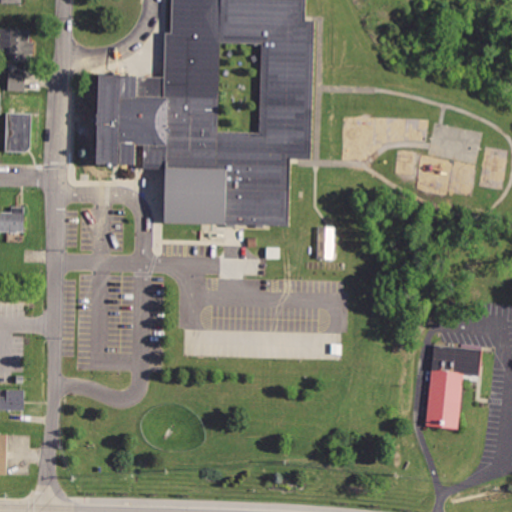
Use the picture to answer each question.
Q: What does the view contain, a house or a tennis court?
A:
house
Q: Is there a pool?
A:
No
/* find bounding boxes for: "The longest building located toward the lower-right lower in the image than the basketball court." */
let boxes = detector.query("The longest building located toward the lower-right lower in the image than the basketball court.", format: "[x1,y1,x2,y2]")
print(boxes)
[428,344,482,430]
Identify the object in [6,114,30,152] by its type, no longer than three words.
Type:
house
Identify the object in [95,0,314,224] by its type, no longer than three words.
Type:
building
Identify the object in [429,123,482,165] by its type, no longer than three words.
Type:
basketball court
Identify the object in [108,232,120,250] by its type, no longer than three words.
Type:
vehicle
